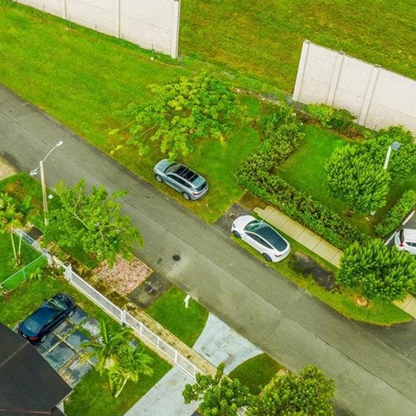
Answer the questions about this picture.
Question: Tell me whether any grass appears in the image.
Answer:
Yes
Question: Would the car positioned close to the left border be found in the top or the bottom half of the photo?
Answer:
bottom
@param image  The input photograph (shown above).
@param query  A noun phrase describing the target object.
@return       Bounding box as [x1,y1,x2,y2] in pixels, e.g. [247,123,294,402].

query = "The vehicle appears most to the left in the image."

[8,288,83,344]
